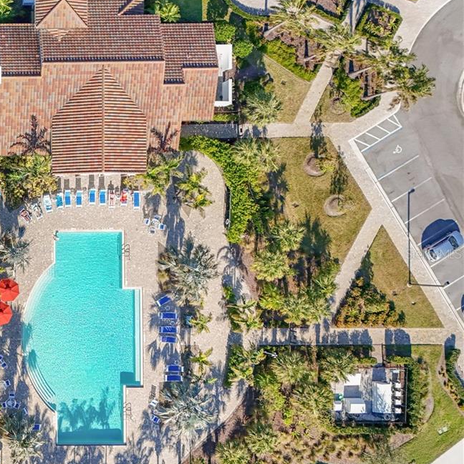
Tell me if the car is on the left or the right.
right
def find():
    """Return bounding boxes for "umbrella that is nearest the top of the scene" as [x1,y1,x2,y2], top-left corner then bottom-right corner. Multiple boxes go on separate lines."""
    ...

[0,278,19,302]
